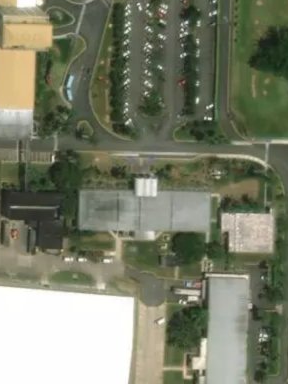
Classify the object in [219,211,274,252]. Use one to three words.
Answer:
building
